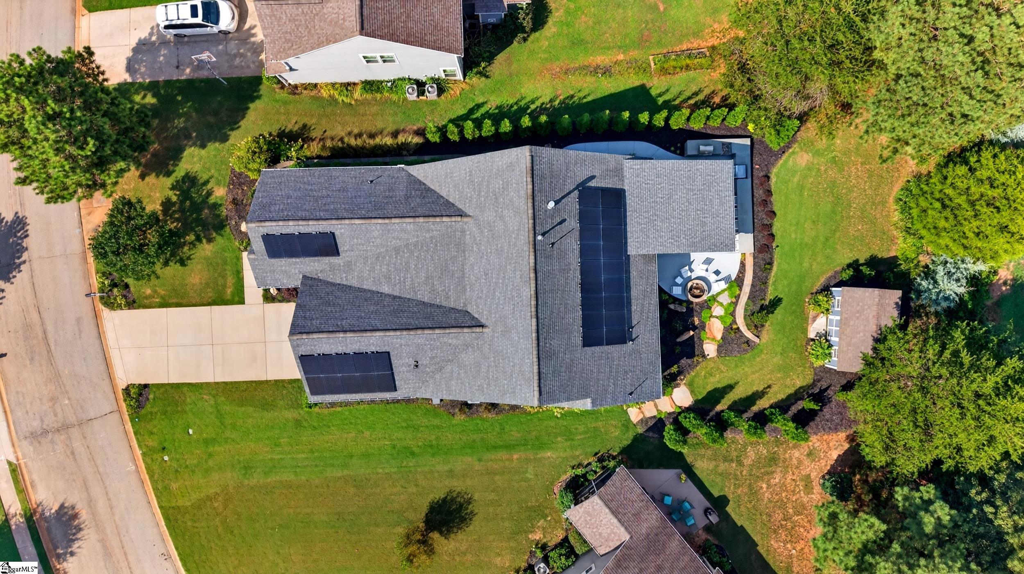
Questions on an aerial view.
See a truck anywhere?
No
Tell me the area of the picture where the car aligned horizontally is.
top left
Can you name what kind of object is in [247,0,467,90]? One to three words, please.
house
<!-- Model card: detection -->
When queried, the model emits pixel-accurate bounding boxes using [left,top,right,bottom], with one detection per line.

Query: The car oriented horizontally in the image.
[156,0,236,39]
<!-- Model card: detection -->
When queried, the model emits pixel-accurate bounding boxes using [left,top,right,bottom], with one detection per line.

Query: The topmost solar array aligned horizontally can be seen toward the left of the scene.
[262,231,339,259]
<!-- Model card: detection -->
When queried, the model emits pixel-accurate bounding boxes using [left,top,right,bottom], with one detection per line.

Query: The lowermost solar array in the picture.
[300,351,395,395]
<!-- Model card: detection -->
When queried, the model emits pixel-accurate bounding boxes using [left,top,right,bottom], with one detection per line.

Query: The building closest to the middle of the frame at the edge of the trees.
[247,146,739,409]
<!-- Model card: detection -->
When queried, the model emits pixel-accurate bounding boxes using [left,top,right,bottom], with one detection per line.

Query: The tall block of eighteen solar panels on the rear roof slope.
[577,189,628,347]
